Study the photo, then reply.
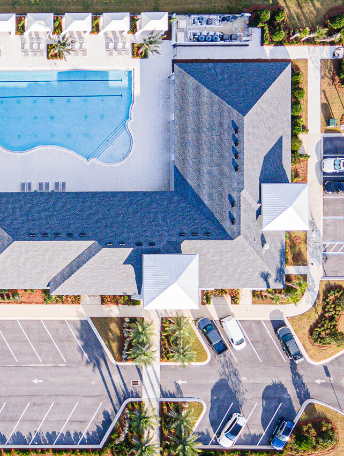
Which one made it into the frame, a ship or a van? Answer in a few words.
van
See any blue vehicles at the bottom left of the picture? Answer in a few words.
No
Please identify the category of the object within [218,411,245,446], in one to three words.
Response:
car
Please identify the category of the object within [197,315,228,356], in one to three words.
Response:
truck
